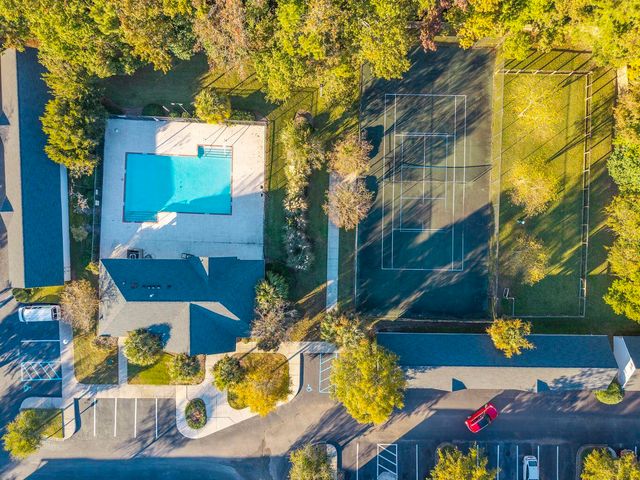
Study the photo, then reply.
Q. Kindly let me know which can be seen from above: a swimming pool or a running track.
swimming pool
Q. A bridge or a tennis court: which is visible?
tennis court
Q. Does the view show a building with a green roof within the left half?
No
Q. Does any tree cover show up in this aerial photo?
Yes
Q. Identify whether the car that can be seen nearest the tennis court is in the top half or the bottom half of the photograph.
bottom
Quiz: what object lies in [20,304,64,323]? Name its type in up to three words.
vehicle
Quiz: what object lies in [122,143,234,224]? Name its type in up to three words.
swimming pool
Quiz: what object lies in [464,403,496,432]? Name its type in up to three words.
car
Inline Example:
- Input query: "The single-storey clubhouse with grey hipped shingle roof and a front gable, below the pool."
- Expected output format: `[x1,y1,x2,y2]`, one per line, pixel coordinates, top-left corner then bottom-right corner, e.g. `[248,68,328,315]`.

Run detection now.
[98,257,264,358]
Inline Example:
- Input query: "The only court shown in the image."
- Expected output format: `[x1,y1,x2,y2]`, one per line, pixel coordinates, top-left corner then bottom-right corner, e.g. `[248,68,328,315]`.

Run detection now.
[355,49,494,321]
